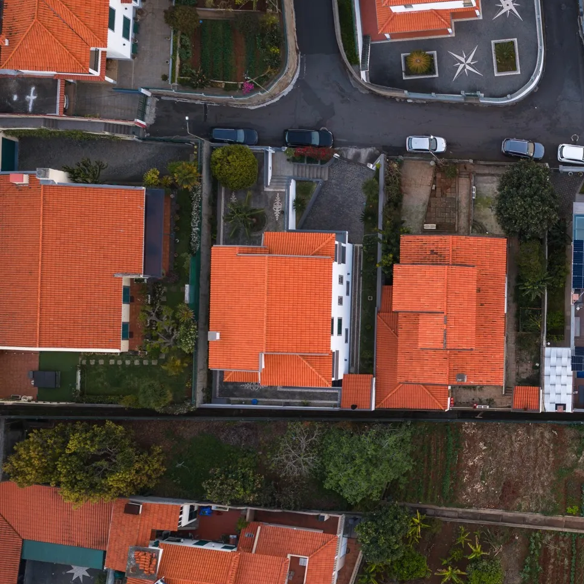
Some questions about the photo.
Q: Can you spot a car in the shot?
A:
Yes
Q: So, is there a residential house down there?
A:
Yes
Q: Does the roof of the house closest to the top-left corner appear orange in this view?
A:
Yes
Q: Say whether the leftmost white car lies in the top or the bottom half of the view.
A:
top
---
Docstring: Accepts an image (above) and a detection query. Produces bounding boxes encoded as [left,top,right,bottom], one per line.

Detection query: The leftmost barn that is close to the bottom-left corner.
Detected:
[0,479,123,584]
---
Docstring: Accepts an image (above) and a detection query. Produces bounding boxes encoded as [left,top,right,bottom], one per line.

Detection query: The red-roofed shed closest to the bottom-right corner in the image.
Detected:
[513,386,540,409]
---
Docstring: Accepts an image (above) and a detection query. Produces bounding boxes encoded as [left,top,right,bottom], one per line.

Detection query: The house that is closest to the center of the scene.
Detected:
[208,231,353,387]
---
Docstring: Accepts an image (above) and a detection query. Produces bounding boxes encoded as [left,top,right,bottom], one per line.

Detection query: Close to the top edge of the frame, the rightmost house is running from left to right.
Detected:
[378,0,483,46]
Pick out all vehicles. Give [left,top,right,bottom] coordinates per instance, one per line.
[557,145,584,165]
[407,134,447,155]
[287,129,335,150]
[501,139,545,160]
[212,126,262,147]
